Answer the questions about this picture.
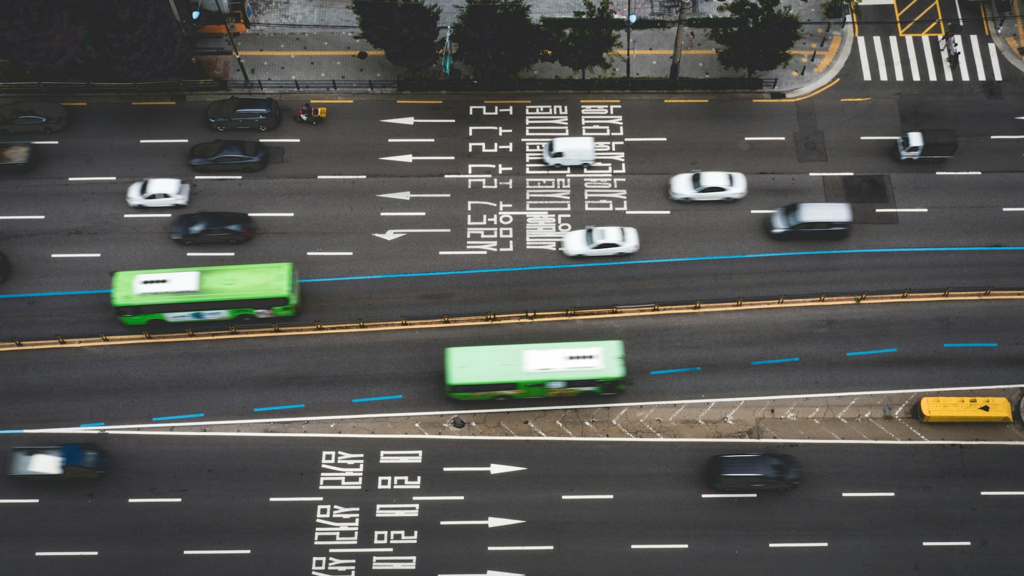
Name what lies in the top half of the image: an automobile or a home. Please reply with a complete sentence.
You can see an automobile in the top half of the image.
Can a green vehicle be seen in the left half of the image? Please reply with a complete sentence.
Yes, a green vehicle can be seen in the left half of the image.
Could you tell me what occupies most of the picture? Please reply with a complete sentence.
What you mostly see from above here is paved ground.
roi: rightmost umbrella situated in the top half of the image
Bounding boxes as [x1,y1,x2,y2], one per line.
[947,22,962,34]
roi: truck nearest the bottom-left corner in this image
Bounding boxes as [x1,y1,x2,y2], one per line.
[3,437,105,478]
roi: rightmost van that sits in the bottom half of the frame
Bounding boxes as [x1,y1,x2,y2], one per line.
[707,447,801,490]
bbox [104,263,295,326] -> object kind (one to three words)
bus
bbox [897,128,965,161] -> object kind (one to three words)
truck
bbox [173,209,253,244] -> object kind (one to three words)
car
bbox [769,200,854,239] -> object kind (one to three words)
van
